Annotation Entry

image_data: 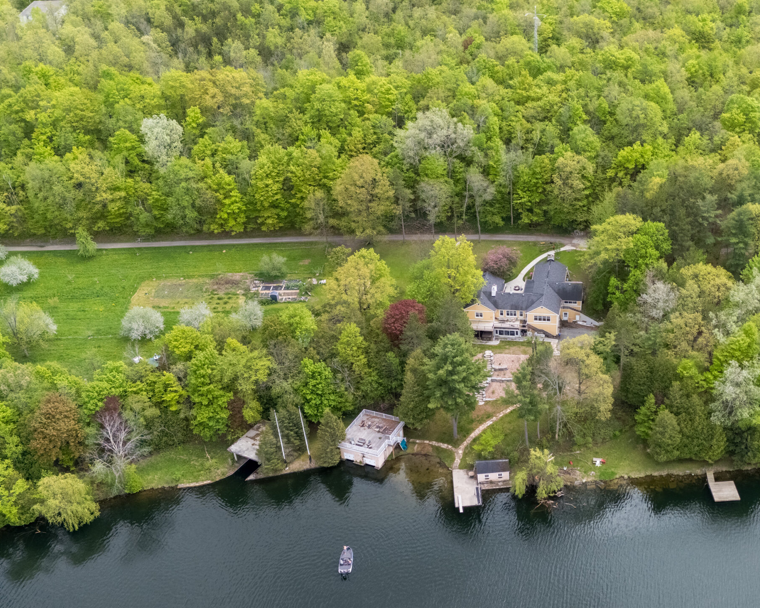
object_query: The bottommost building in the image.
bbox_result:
[475,457,510,484]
